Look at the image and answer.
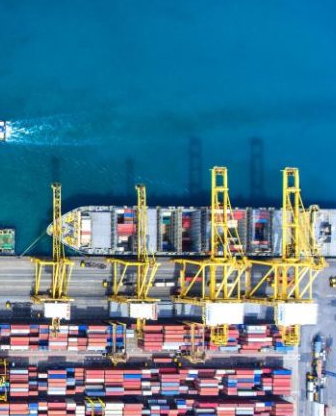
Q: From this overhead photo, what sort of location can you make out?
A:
port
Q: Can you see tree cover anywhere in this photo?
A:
No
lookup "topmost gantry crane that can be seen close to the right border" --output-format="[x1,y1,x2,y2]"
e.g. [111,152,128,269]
[231,169,325,350]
